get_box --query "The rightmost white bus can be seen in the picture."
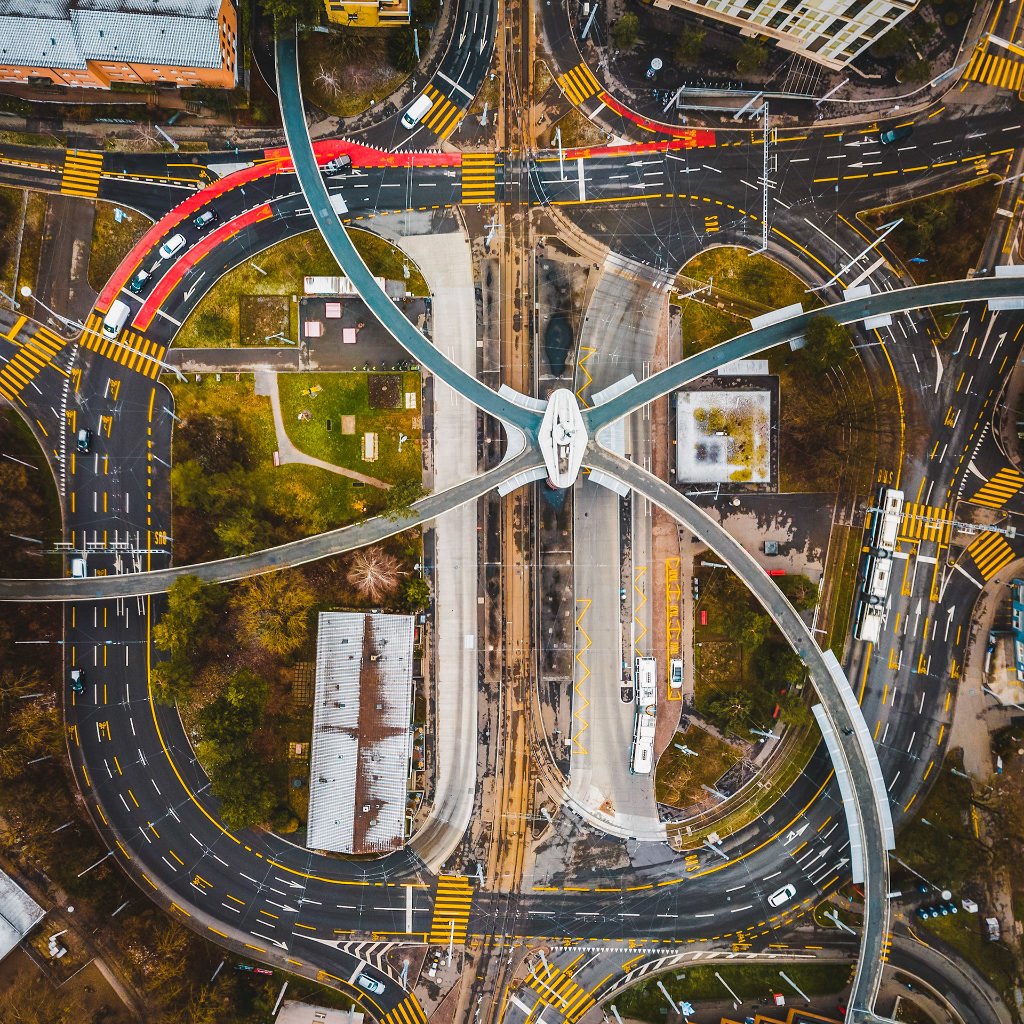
[853,487,904,654]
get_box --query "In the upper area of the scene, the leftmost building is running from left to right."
[0,0,239,96]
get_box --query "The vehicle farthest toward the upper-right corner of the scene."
[879,124,913,145]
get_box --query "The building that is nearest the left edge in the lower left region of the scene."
[0,860,48,958]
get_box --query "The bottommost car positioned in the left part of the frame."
[355,971,387,994]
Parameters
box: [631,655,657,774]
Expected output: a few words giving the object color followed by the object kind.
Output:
white bus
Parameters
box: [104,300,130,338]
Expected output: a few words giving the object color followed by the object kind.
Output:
white vehicle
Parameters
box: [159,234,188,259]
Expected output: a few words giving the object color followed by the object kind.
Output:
white car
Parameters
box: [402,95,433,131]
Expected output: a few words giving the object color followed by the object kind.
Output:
white van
